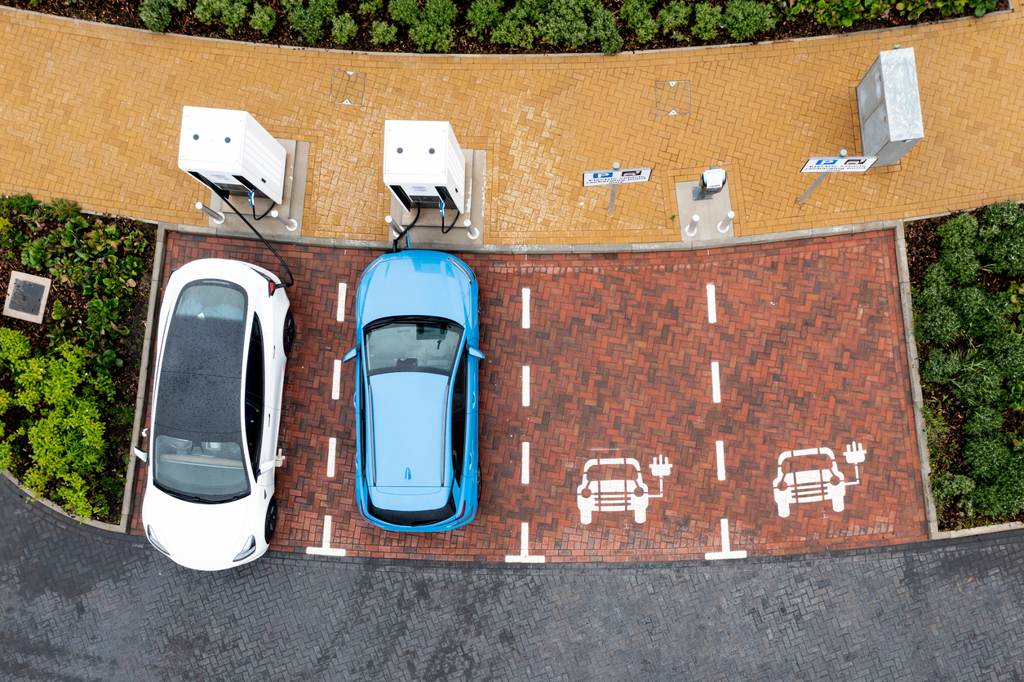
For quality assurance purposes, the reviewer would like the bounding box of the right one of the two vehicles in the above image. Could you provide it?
[342,230,489,535]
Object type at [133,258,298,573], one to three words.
car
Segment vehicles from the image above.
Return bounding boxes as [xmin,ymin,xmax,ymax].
[342,230,489,535]
[133,258,298,573]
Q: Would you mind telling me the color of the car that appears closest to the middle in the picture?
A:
blue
